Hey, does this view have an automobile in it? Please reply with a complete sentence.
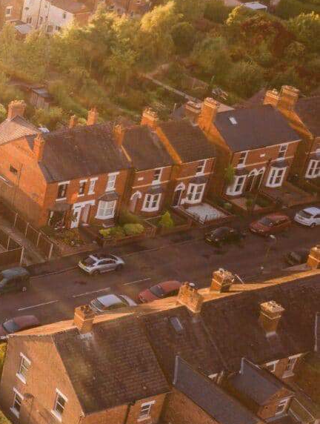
Yes, an automobile is visible in the scene.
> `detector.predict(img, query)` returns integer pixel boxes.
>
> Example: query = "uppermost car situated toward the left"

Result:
[75,252,125,279]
